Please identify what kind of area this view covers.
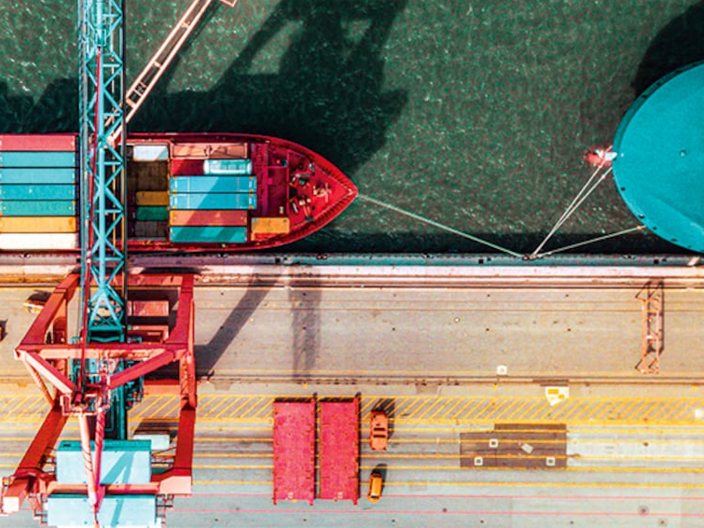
port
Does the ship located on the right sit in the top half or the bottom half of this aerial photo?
top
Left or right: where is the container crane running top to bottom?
left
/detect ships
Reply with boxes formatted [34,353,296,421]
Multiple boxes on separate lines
[591,63,704,249]
[0,0,358,251]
